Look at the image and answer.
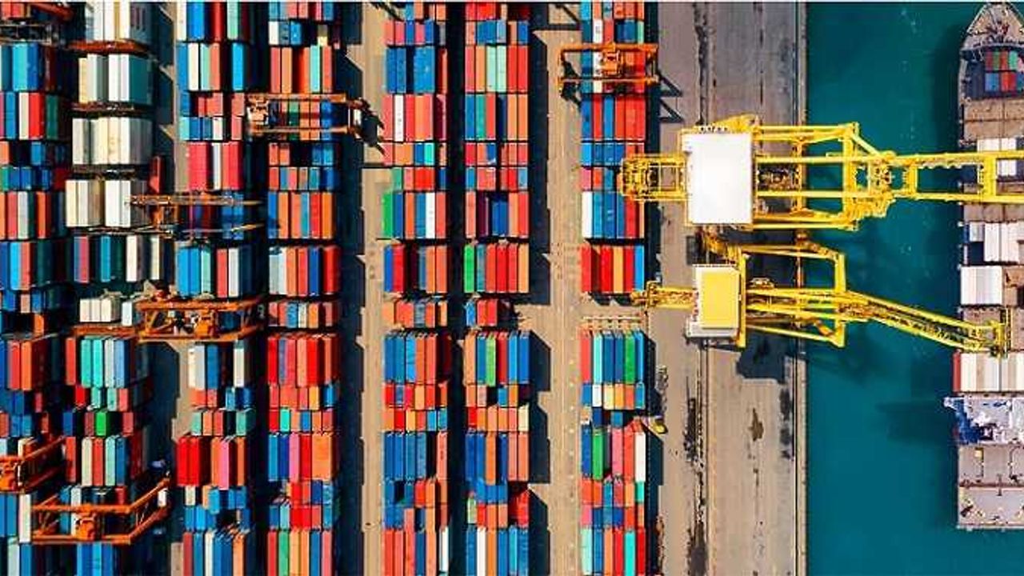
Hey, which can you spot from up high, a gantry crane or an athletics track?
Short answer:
gantry crane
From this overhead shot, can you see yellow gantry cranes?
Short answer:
Yes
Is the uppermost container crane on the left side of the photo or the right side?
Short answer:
left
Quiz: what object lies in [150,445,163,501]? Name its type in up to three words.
vehicle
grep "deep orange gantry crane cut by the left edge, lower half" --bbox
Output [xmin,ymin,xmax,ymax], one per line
[0,423,70,492]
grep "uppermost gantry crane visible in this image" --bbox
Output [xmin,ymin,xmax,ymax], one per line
[0,7,81,67]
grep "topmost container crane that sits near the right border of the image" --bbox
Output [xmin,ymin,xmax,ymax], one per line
[619,114,1024,233]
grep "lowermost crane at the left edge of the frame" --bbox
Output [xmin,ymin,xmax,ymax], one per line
[31,468,169,544]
